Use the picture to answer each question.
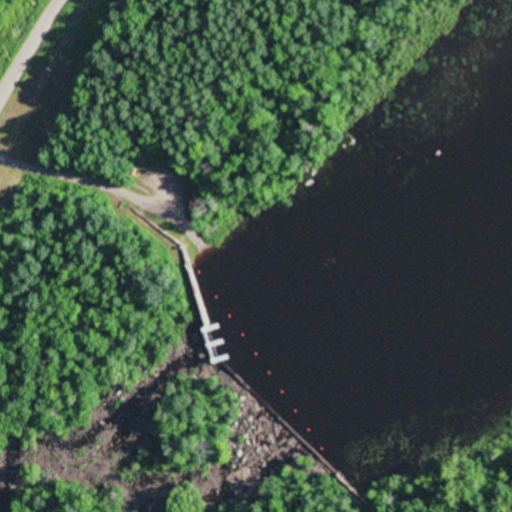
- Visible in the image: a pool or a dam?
dam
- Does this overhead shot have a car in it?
No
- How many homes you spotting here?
0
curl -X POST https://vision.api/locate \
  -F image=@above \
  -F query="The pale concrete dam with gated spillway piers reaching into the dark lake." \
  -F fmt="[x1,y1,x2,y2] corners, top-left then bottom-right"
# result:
[116,204,230,365]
